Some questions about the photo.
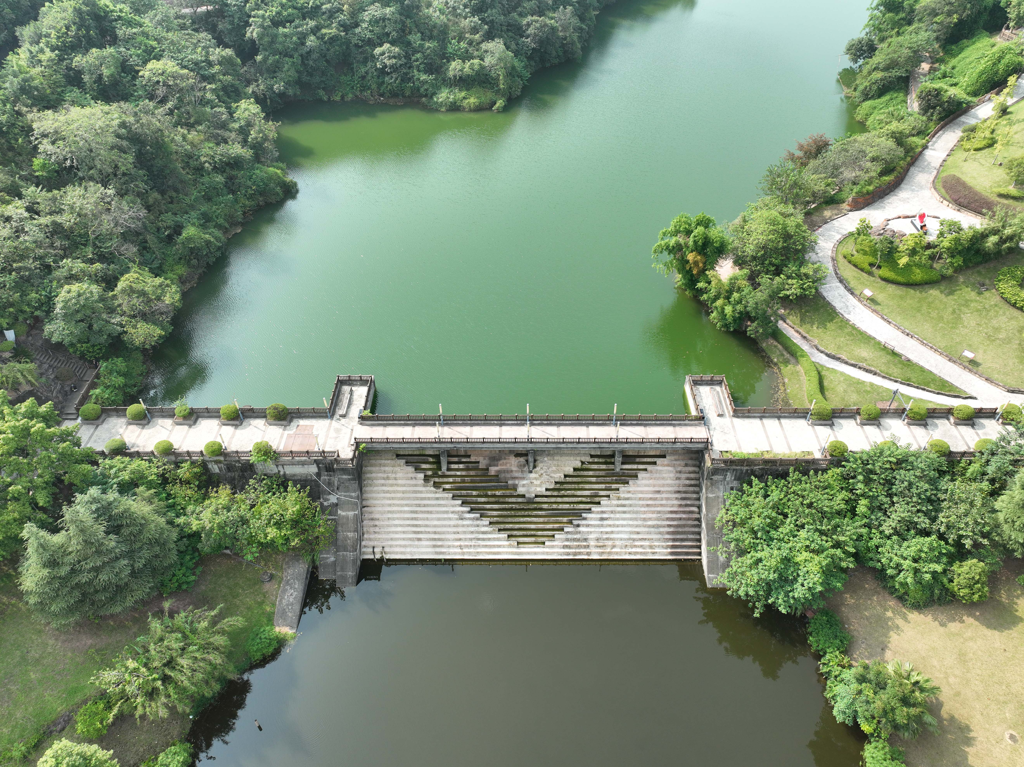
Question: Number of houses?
0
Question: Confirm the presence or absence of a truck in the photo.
No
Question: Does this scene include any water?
Yes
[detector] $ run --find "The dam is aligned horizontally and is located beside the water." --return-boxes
[12,377,1024,587]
